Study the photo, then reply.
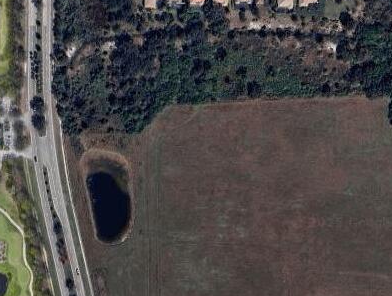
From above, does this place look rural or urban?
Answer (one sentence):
The land in this view is best described as rural.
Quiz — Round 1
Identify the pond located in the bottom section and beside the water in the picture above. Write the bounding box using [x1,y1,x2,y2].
[86,171,131,239]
